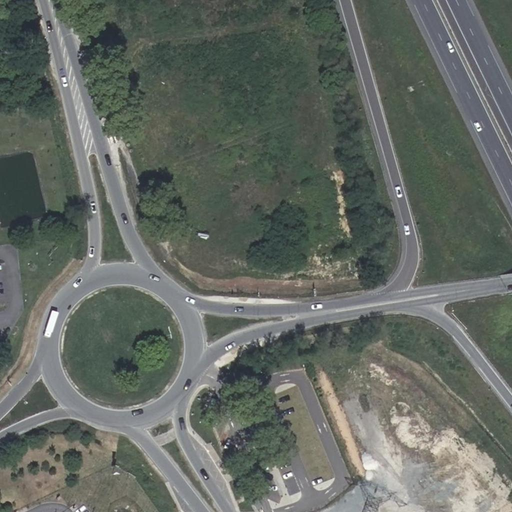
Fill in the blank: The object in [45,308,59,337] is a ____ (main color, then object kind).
white vehicle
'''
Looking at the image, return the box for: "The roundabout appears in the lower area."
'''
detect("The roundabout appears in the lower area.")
[40,264,206,430]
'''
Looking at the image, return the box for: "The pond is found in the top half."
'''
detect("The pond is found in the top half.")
[0,153,44,225]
